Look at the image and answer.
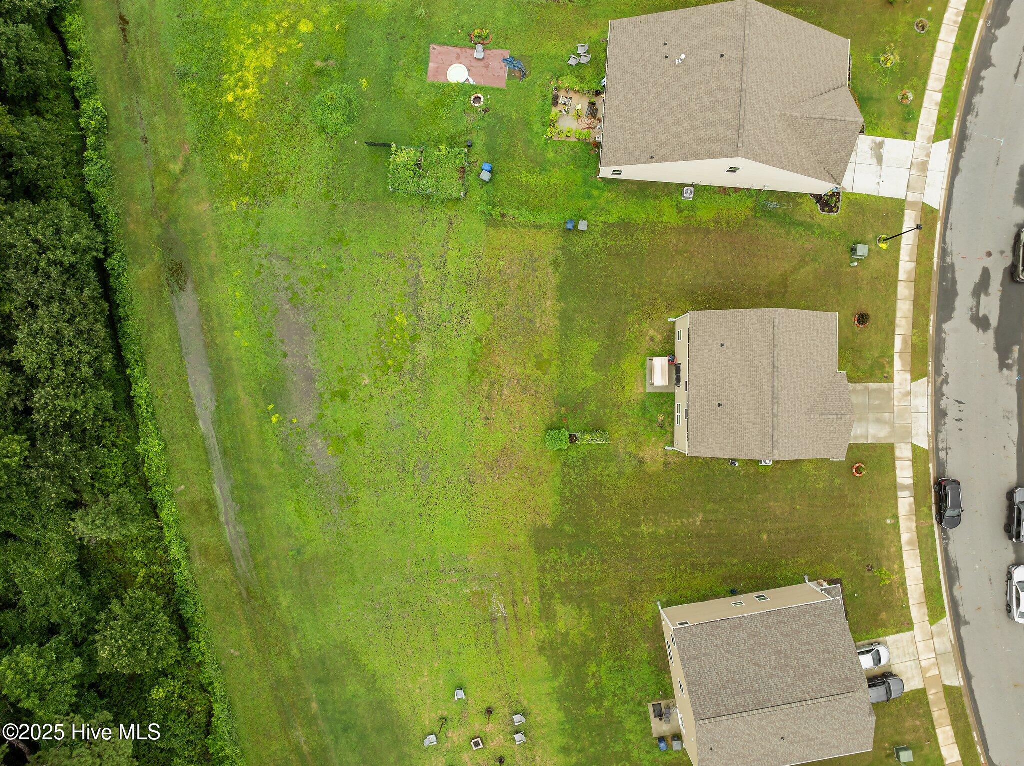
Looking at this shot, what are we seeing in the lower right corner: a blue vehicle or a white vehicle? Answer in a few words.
white vehicle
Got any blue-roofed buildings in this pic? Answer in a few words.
No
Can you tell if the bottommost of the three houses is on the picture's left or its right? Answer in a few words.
right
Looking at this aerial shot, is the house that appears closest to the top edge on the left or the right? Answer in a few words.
right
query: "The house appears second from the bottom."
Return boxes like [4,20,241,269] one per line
[660,307,855,459]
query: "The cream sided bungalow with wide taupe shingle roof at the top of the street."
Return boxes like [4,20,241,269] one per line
[588,0,866,201]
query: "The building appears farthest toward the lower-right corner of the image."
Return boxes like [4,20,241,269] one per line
[660,570,879,766]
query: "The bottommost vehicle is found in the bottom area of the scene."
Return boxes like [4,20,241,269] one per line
[870,671,904,705]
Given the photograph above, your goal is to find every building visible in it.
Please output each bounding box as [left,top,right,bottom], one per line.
[588,0,866,201]
[660,307,855,459]
[660,570,879,766]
